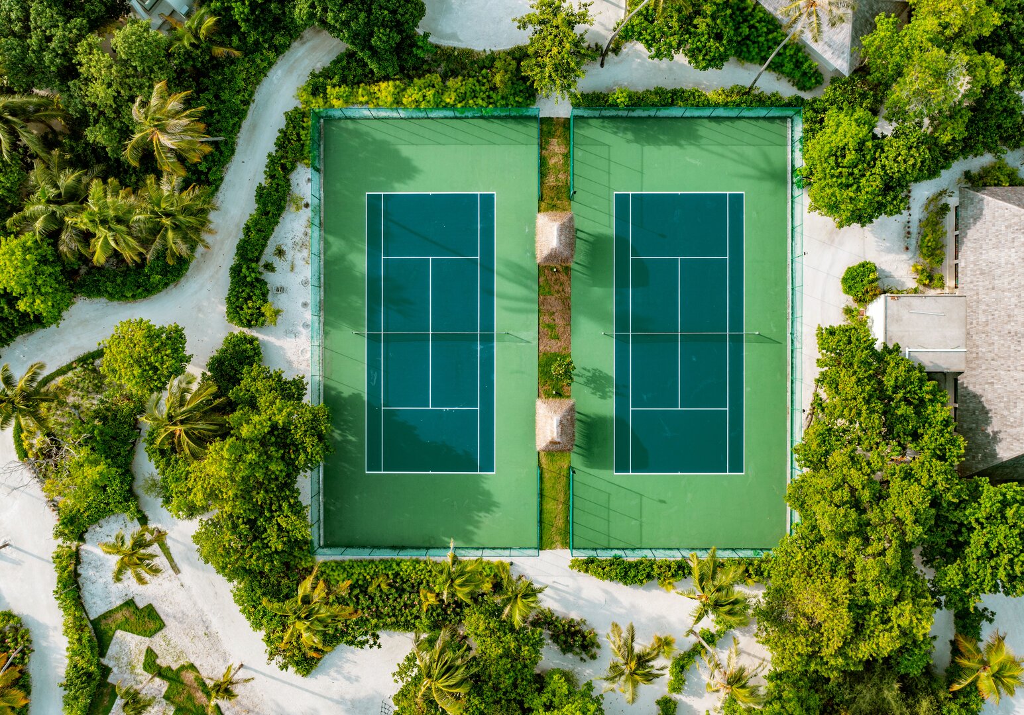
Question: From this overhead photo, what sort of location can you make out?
sports ground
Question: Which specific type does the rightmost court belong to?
tennis court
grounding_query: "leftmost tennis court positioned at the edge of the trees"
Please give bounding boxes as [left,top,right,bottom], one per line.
[321,118,539,549]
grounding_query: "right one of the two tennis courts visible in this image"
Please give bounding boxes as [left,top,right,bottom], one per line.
[572,118,791,549]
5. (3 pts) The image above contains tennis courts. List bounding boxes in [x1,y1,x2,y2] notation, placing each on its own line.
[321,118,539,549]
[572,118,791,549]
